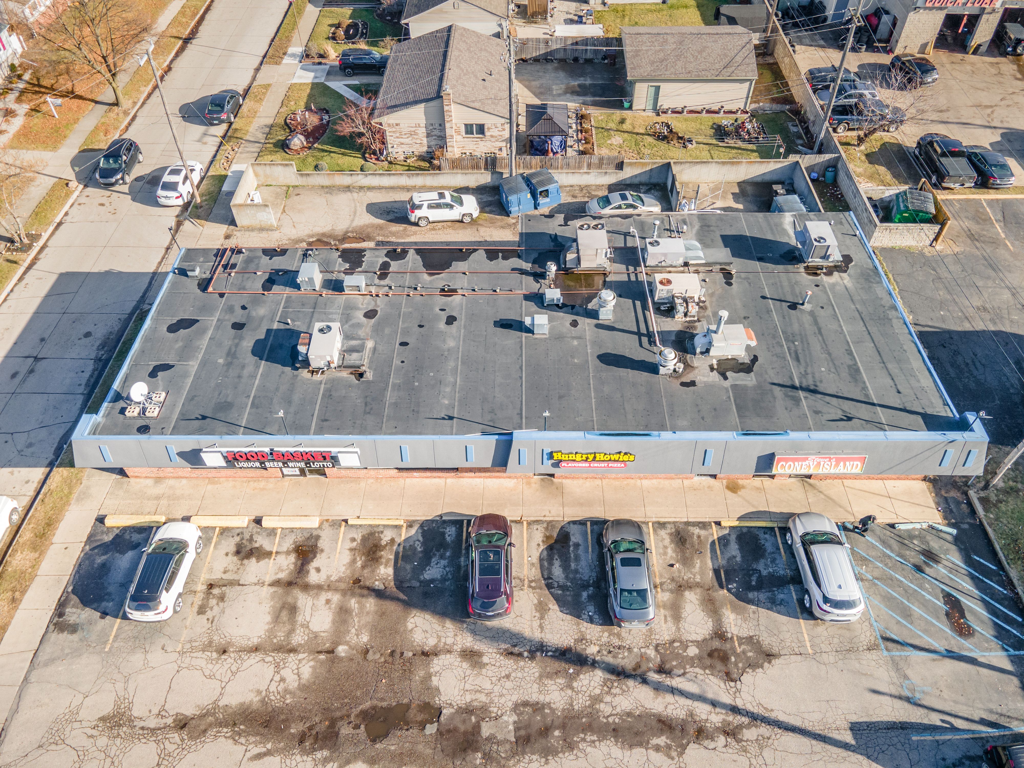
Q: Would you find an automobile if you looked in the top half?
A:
Yes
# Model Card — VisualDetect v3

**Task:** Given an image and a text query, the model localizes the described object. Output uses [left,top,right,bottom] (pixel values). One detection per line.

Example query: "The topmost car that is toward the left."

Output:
[339,49,389,76]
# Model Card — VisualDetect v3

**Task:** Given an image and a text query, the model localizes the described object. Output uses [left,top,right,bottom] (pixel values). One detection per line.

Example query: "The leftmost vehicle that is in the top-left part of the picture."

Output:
[98,135,142,183]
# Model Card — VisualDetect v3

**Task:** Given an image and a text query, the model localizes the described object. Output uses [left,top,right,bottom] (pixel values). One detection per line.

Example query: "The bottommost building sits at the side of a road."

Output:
[70,214,990,478]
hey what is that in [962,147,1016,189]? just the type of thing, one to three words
car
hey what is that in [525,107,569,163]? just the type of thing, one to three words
gazebo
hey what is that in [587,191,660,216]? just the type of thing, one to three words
car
